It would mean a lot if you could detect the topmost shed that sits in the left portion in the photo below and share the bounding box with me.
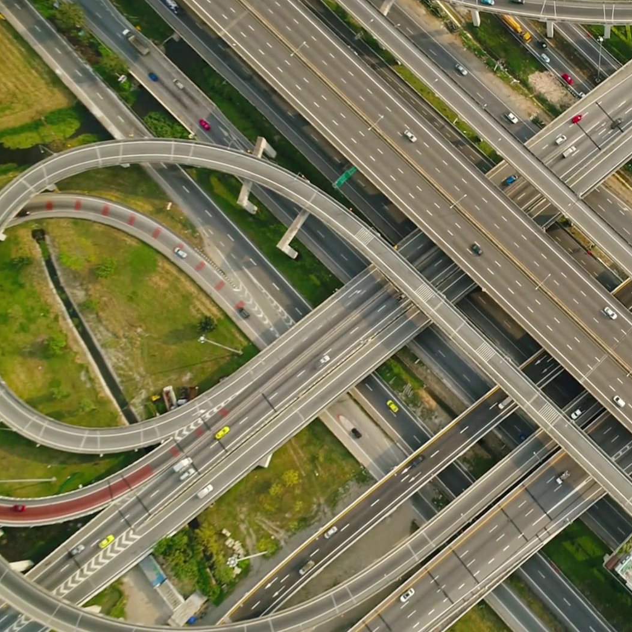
[139,554,171,588]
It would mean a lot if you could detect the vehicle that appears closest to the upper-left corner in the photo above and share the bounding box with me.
[124,29,146,52]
